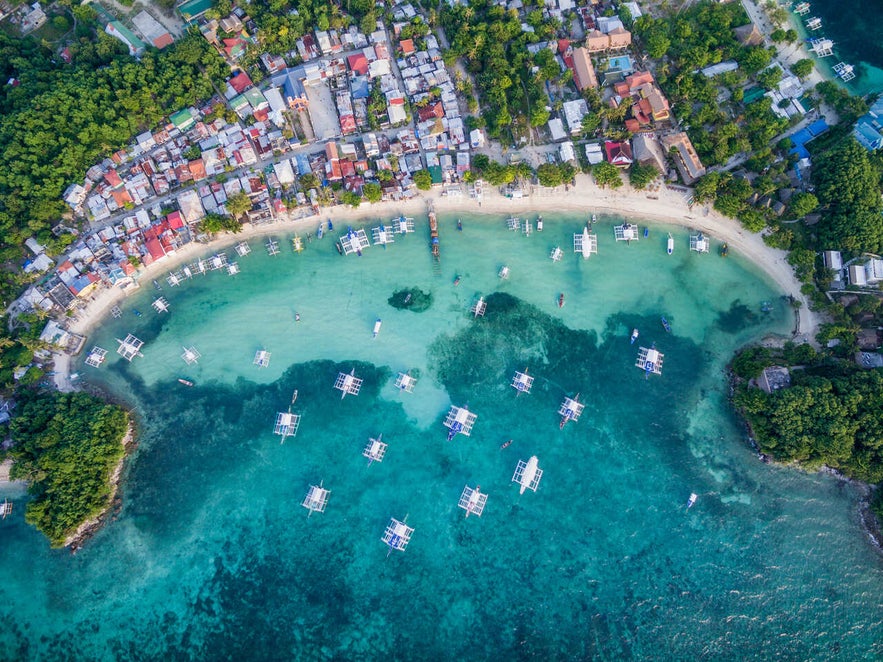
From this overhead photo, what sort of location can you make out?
residential area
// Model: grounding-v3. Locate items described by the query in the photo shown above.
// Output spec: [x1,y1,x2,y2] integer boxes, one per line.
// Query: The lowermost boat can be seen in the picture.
[379,513,416,555]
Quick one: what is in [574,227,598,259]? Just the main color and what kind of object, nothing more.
white boat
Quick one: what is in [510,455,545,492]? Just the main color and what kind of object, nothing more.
white boat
